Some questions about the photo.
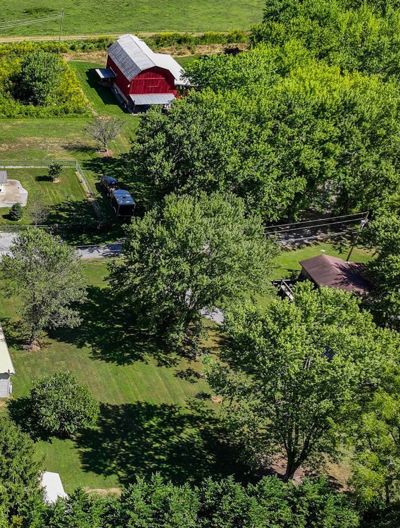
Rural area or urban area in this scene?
rural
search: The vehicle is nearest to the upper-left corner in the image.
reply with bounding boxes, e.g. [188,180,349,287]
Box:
[99,177,119,195]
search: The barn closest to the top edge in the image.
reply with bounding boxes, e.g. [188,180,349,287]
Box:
[95,32,197,115]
